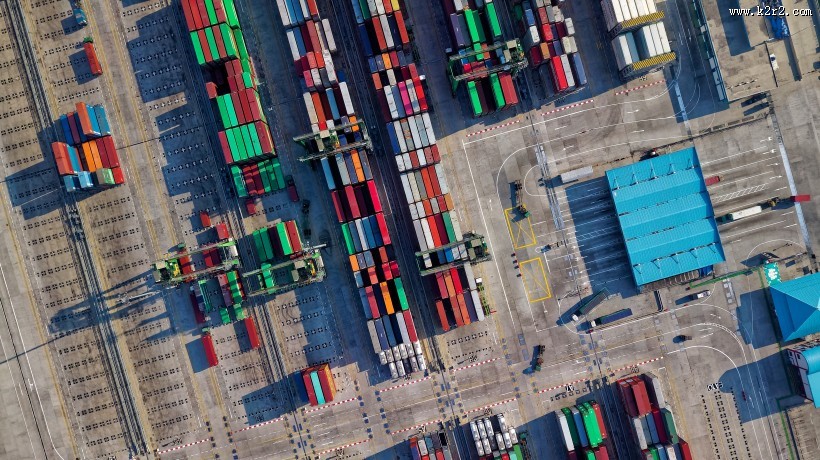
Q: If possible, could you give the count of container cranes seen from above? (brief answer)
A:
5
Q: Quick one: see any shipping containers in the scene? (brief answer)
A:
Yes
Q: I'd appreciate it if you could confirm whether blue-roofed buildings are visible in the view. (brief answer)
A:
Yes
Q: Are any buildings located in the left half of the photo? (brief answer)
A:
No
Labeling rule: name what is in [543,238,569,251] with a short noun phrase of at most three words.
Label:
vehicle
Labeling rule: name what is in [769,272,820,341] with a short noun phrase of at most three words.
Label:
building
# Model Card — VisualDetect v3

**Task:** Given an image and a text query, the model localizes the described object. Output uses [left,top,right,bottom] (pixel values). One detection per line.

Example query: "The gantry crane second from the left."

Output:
[242,249,328,298]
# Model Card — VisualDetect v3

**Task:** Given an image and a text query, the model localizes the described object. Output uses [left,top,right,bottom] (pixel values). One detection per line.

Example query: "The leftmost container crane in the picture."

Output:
[147,237,247,287]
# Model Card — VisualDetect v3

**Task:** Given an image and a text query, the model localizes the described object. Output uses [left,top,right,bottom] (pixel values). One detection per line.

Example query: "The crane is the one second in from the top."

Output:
[294,117,374,171]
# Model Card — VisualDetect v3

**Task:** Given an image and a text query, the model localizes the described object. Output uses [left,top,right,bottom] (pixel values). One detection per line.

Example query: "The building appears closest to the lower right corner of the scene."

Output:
[786,338,820,411]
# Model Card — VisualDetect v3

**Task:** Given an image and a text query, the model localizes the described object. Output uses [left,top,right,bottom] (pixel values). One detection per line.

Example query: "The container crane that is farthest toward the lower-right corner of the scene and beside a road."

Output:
[413,231,494,280]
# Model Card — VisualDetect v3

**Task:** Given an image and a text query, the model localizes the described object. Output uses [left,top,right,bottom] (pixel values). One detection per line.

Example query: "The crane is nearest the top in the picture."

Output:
[445,34,532,98]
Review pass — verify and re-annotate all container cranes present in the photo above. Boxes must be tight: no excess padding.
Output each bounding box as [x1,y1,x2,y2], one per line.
[147,237,247,287]
[445,34,532,98]
[242,249,328,298]
[413,231,494,280]
[294,117,374,171]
